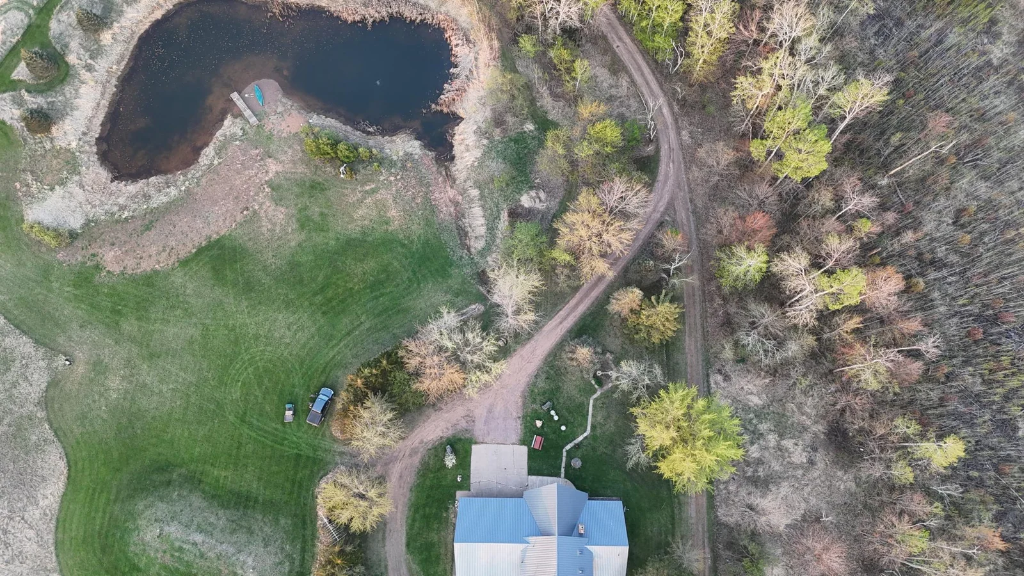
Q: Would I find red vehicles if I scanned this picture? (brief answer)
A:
No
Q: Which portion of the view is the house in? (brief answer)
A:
bottom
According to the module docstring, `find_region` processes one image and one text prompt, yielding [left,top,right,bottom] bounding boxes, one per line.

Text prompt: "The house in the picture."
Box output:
[454,482,628,576]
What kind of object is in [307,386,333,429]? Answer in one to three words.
truck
